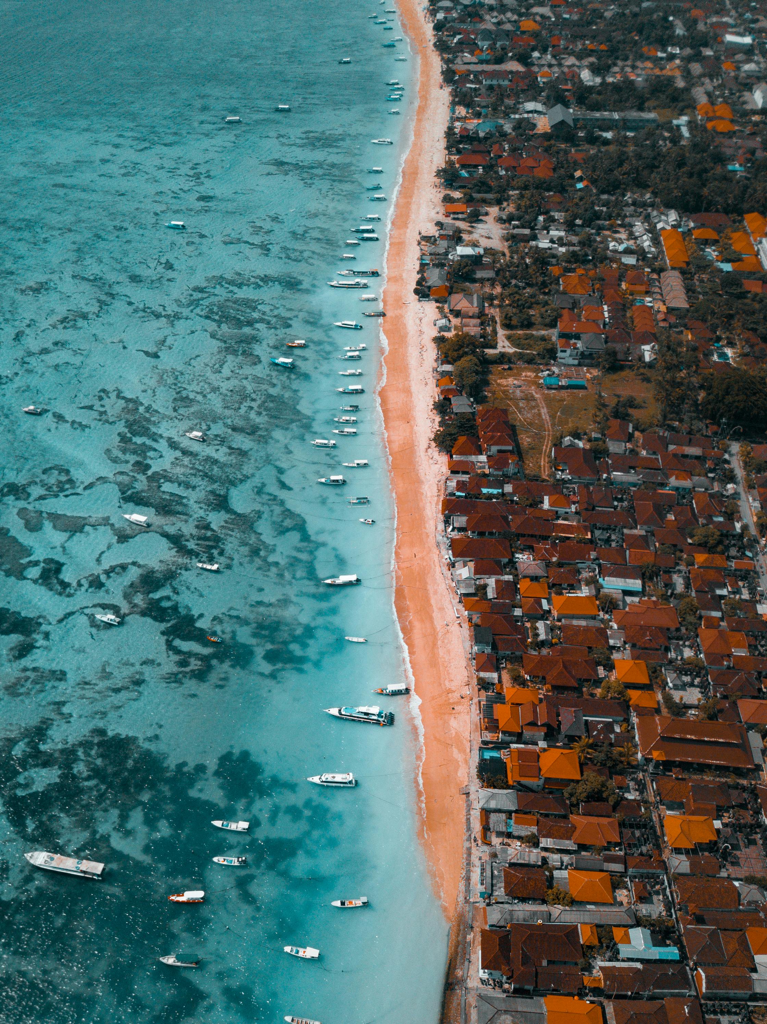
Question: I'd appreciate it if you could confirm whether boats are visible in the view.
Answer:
Yes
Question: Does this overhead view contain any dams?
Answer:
No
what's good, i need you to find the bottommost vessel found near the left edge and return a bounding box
[20,844,108,878]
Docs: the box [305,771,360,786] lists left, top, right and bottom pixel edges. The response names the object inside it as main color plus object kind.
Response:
white boat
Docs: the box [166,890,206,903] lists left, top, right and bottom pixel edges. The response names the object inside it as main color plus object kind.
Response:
white boat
